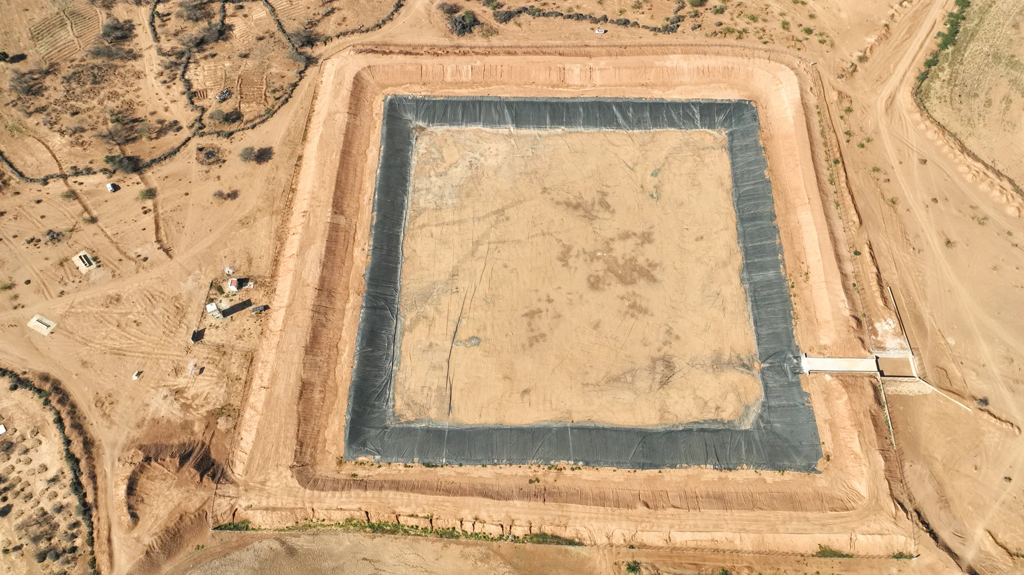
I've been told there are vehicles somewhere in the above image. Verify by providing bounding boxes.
[107,183,114,192]
[596,28,605,33]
